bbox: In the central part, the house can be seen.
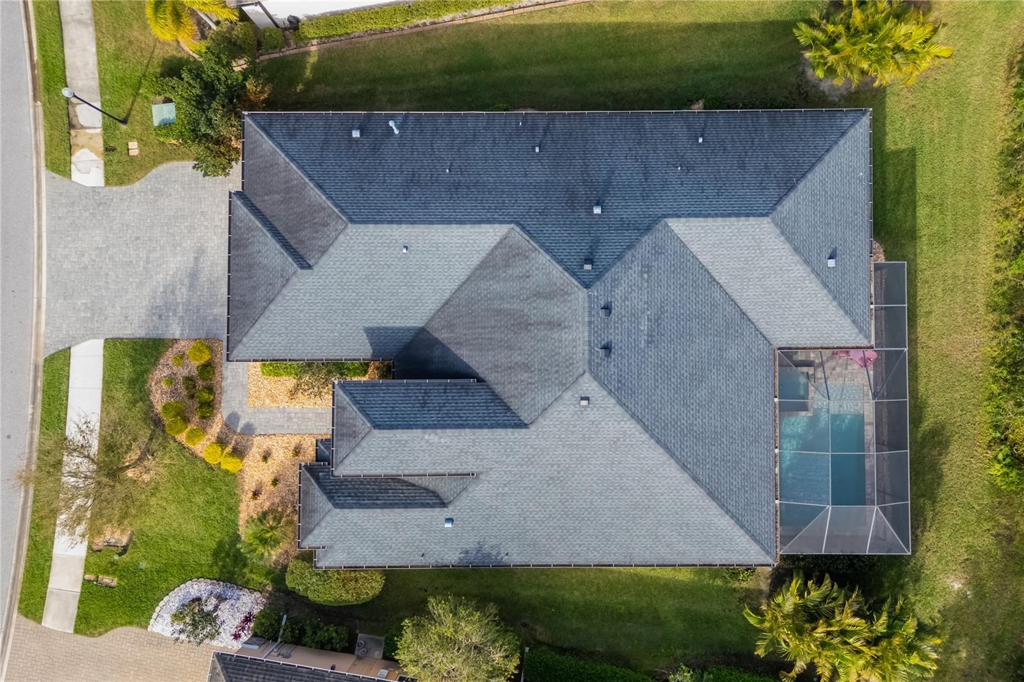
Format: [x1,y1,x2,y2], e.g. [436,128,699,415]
[225,108,875,569]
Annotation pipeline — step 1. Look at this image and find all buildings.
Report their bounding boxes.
[225,108,875,569]
[206,615,440,682]
[229,0,411,30]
